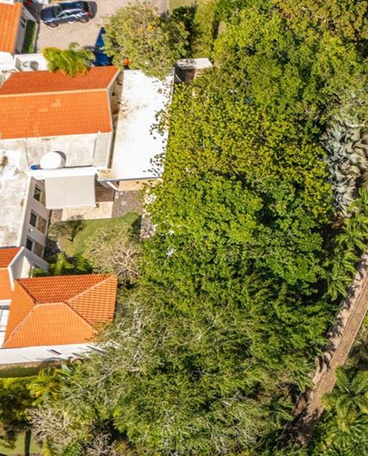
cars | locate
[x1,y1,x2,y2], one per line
[84,33,118,68]
[42,0,90,25]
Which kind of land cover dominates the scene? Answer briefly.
trees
